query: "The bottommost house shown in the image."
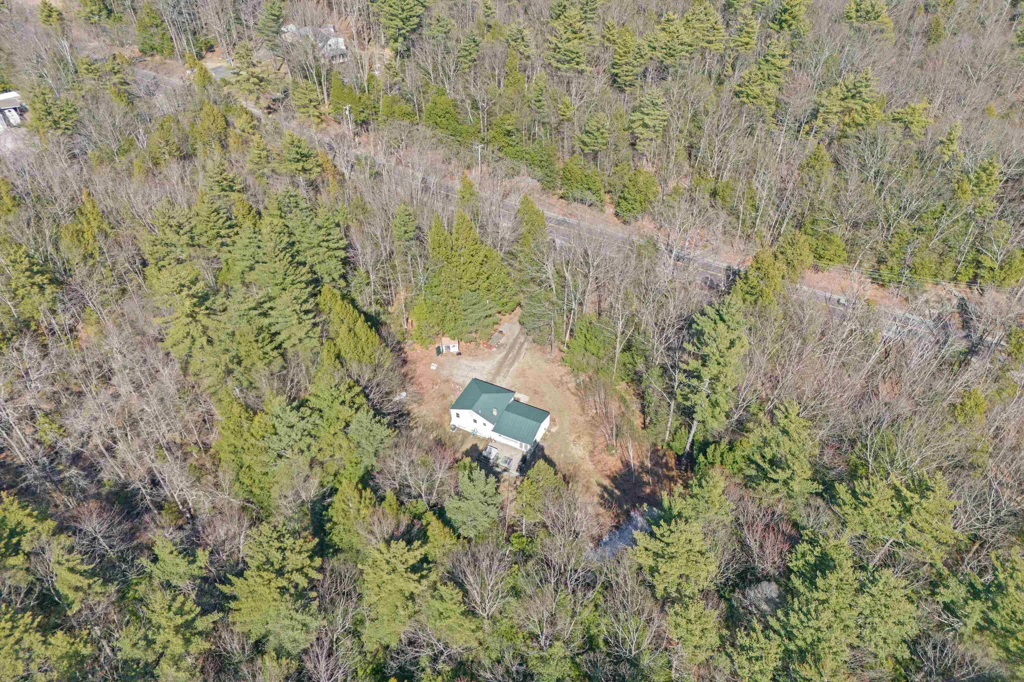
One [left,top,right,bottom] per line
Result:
[450,376,550,455]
